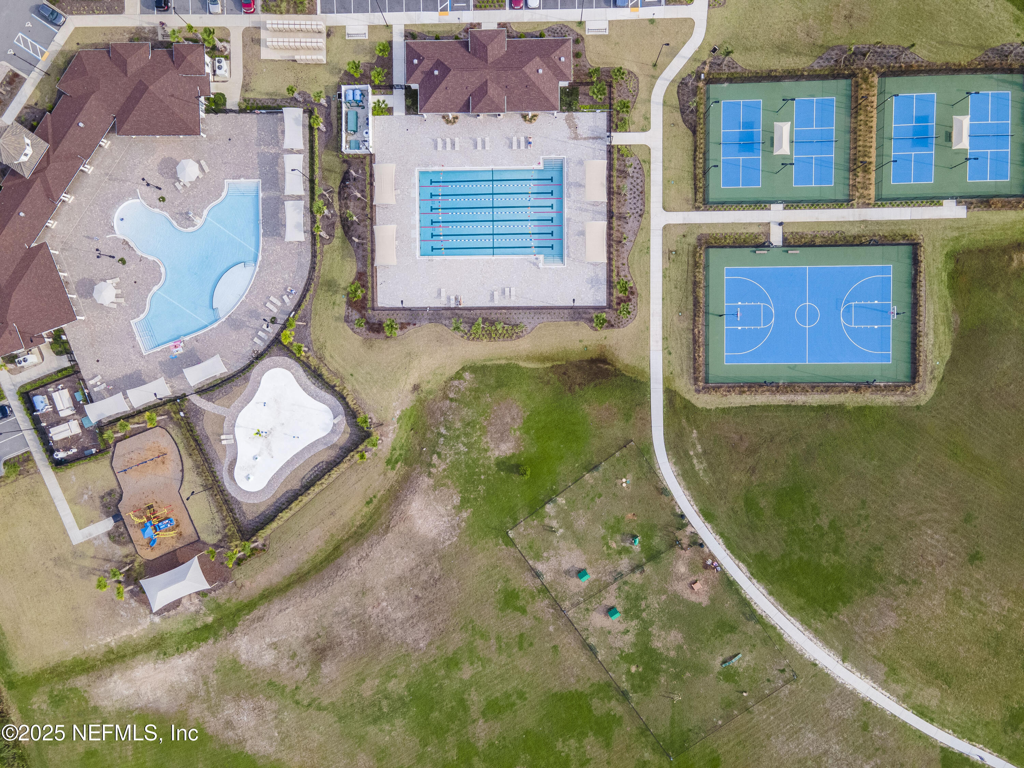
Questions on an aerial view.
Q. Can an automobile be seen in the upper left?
Yes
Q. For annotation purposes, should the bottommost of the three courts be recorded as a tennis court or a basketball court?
basketball court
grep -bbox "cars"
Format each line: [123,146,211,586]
[527,0,539,7]
[615,0,628,6]
[32,1,63,25]
[511,0,523,7]
[0,406,11,419]
[239,0,255,12]
[206,0,221,13]
[152,0,169,9]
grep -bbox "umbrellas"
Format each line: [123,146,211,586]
[93,281,116,305]
[176,158,199,182]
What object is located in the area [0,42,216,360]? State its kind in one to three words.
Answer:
building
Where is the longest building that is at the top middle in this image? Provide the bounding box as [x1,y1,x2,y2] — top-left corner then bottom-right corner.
[404,28,573,118]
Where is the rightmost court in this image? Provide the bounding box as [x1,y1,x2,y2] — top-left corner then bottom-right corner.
[875,74,1024,201]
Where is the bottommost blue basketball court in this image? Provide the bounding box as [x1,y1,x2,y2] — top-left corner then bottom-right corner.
[705,245,913,383]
